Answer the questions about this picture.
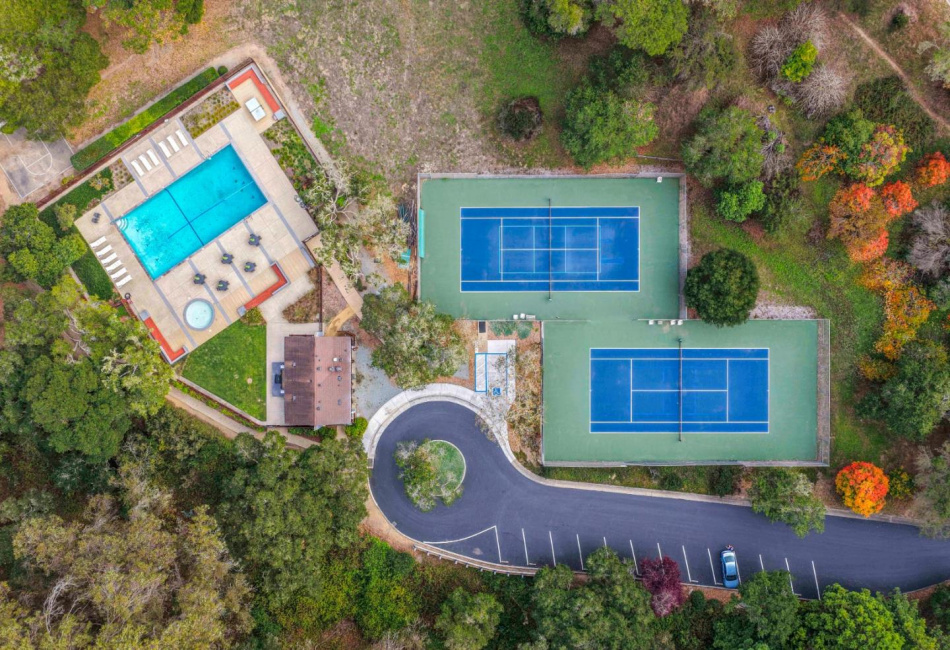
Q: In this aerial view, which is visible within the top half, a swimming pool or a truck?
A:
swimming pool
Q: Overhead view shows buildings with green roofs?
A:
No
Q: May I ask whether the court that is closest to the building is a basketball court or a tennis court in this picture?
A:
tennis court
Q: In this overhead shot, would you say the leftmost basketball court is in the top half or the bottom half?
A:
top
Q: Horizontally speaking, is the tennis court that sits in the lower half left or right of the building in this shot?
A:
to the right of it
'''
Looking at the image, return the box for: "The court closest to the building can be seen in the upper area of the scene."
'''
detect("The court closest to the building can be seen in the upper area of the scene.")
[421,178,681,320]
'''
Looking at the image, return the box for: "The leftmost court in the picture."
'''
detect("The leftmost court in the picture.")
[0,106,73,198]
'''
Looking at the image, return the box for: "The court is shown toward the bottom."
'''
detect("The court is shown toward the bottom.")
[545,320,818,463]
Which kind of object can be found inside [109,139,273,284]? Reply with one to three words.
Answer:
swimming pool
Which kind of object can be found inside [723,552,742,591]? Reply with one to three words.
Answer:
car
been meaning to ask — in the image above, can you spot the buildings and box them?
[284,333,352,429]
